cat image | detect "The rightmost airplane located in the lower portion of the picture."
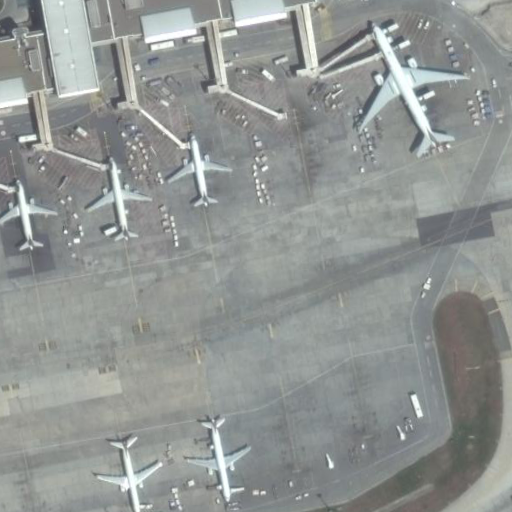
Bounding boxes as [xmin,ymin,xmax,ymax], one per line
[186,418,252,502]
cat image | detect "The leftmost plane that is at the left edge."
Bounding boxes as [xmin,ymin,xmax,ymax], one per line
[0,180,57,251]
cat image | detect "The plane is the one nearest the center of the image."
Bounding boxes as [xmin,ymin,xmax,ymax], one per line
[168,134,234,206]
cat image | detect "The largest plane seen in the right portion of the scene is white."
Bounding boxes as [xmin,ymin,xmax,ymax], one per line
[358,24,468,156]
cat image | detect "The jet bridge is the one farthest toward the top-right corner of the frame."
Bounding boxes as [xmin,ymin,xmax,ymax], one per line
[296,3,384,78]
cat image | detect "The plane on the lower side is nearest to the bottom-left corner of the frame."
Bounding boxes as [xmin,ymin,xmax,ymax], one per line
[98,436,164,512]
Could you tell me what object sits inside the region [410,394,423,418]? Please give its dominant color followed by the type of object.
white vehicle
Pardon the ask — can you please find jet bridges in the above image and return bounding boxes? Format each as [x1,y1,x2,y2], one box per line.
[116,38,189,151]
[0,182,16,194]
[33,92,108,170]
[296,3,384,78]
[206,20,286,120]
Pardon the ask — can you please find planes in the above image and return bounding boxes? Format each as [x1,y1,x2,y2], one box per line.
[98,436,164,512]
[168,134,234,206]
[87,158,153,240]
[186,418,252,502]
[0,180,57,251]
[358,24,468,156]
